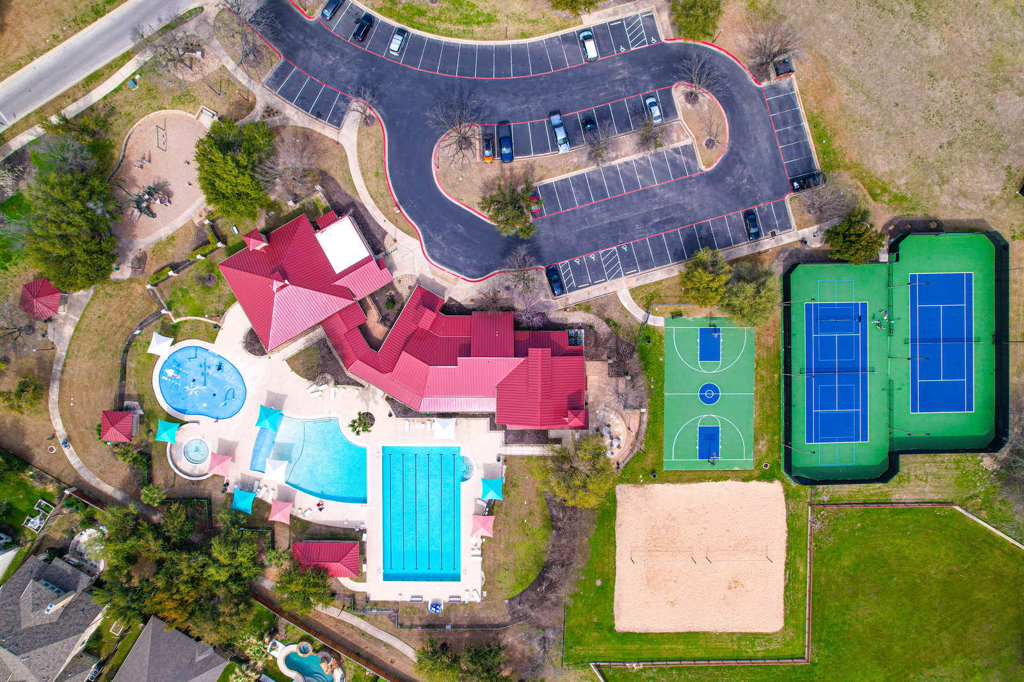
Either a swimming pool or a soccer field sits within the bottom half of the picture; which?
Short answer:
swimming pool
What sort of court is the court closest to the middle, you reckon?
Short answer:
basketball court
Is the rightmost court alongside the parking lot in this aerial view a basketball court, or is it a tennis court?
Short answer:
tennis court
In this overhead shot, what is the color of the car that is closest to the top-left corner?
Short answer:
blue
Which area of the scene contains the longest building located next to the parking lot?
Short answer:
center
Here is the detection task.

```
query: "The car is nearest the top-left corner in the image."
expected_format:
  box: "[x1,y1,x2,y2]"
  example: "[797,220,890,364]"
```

[320,0,344,22]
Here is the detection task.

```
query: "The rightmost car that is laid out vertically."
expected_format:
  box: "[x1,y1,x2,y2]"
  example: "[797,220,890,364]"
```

[743,210,759,239]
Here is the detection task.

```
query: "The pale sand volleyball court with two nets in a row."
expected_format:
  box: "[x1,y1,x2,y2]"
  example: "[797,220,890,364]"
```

[613,479,787,634]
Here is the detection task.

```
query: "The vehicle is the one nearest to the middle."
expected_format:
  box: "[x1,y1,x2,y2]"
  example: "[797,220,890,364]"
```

[546,266,563,295]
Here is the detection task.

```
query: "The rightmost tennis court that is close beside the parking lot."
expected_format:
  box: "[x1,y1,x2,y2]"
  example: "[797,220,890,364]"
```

[889,234,995,452]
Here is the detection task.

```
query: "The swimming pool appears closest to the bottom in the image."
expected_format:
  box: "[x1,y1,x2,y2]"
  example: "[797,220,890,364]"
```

[277,641,346,682]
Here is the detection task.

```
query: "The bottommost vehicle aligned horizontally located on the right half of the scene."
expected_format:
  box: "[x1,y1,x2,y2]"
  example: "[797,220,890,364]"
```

[789,172,825,191]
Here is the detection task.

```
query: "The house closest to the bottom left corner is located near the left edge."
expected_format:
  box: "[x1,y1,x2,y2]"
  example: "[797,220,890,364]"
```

[0,555,108,682]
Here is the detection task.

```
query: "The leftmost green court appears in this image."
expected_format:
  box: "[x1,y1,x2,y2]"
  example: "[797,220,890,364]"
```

[664,317,755,470]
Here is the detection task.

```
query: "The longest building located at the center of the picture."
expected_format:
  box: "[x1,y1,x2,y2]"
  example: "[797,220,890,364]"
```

[320,284,589,430]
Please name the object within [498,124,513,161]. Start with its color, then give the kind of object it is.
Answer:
blue vehicle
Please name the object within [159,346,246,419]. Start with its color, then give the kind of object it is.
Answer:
blue swimming pool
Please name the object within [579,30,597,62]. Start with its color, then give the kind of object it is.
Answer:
white car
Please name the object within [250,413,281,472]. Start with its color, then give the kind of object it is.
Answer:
blue swimming pool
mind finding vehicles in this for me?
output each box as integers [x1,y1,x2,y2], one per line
[789,172,825,191]
[320,0,344,22]
[645,96,661,125]
[390,28,407,59]
[550,113,569,151]
[546,266,563,295]
[482,136,495,160]
[743,210,759,239]
[352,12,374,42]
[579,30,597,62]
[583,117,597,142]
[498,124,513,161]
